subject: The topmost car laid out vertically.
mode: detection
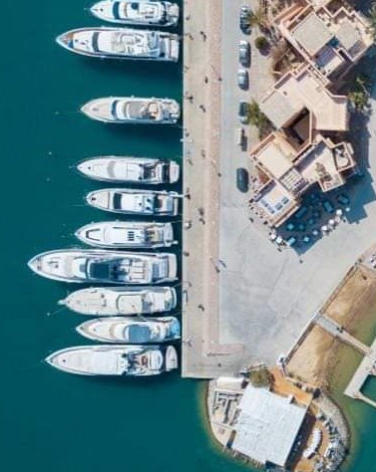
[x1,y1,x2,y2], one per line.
[238,8,250,33]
